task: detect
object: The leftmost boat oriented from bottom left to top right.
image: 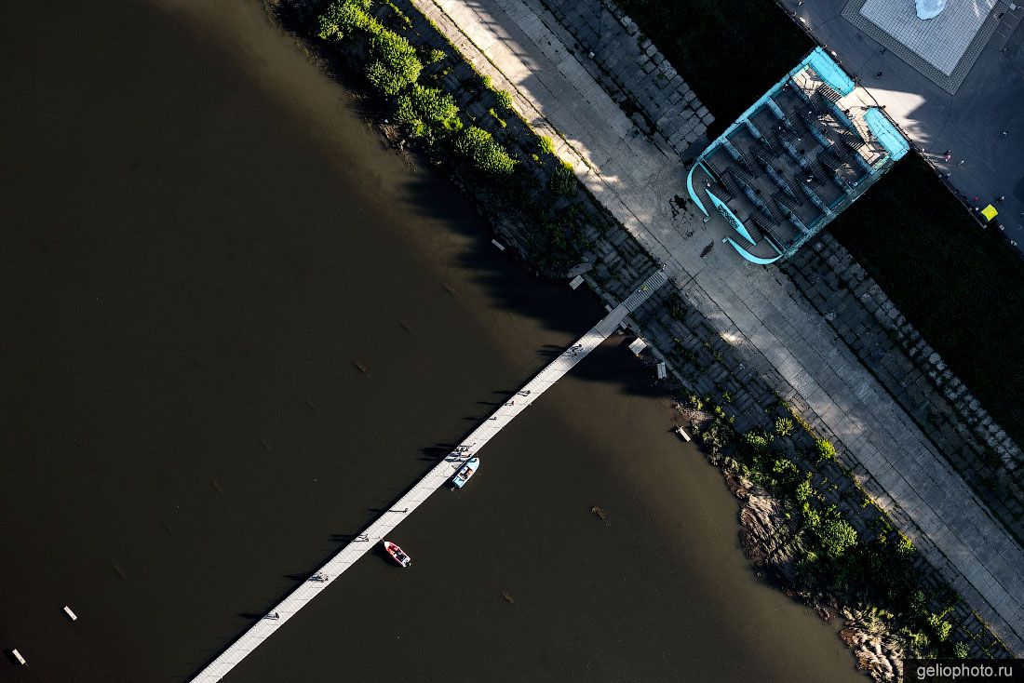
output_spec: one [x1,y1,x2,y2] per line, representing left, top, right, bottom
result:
[451,458,479,490]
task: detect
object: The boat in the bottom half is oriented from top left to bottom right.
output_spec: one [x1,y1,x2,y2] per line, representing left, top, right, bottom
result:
[384,542,411,568]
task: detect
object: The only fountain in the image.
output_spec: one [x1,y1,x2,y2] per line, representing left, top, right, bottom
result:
[833,0,1024,103]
